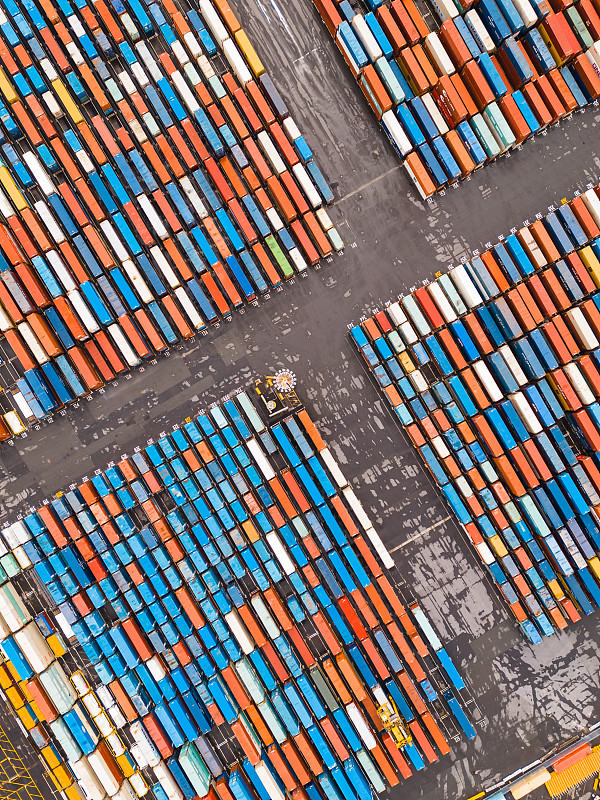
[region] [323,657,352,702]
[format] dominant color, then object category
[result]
orange shipping container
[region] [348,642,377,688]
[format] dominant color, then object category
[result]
blue shipping container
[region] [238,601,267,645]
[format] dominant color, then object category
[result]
orange shipping container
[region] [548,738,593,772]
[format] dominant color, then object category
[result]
red shipping container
